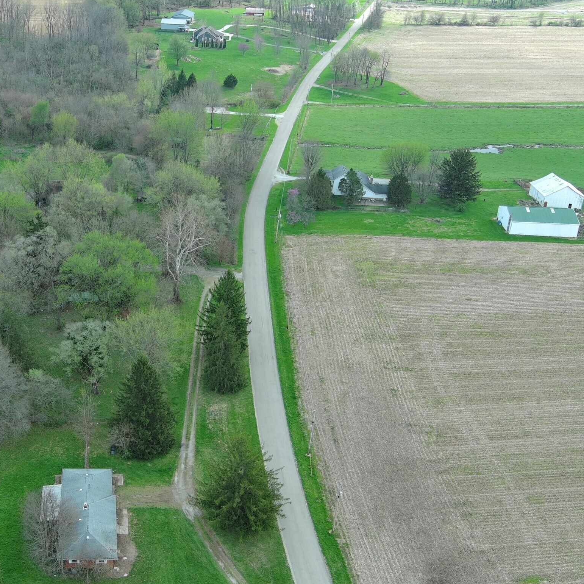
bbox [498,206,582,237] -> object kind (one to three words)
shed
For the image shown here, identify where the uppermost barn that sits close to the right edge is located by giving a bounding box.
[532,172,584,208]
